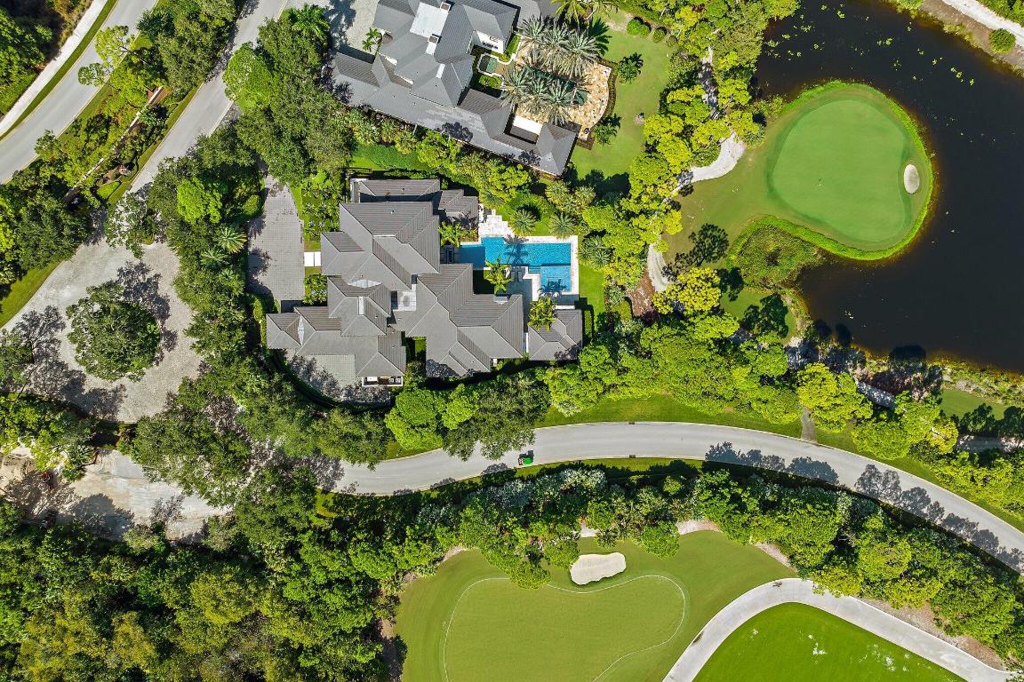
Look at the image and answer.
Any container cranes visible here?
No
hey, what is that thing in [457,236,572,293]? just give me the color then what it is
blue swimming pool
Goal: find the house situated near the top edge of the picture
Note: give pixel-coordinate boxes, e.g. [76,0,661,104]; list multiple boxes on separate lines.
[322,0,582,176]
